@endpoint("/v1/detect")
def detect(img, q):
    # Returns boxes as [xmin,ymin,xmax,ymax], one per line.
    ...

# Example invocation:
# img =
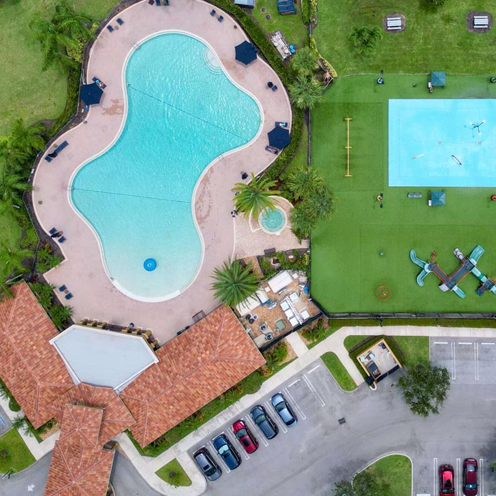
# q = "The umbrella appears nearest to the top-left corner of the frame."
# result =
[80,83,104,106]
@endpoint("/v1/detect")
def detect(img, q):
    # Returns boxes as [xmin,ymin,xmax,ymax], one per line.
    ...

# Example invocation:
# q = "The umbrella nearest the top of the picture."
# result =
[235,41,256,65]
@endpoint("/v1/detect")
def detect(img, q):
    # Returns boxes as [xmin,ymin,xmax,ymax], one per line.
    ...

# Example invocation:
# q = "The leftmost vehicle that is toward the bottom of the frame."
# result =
[192,445,222,483]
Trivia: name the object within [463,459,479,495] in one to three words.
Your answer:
car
